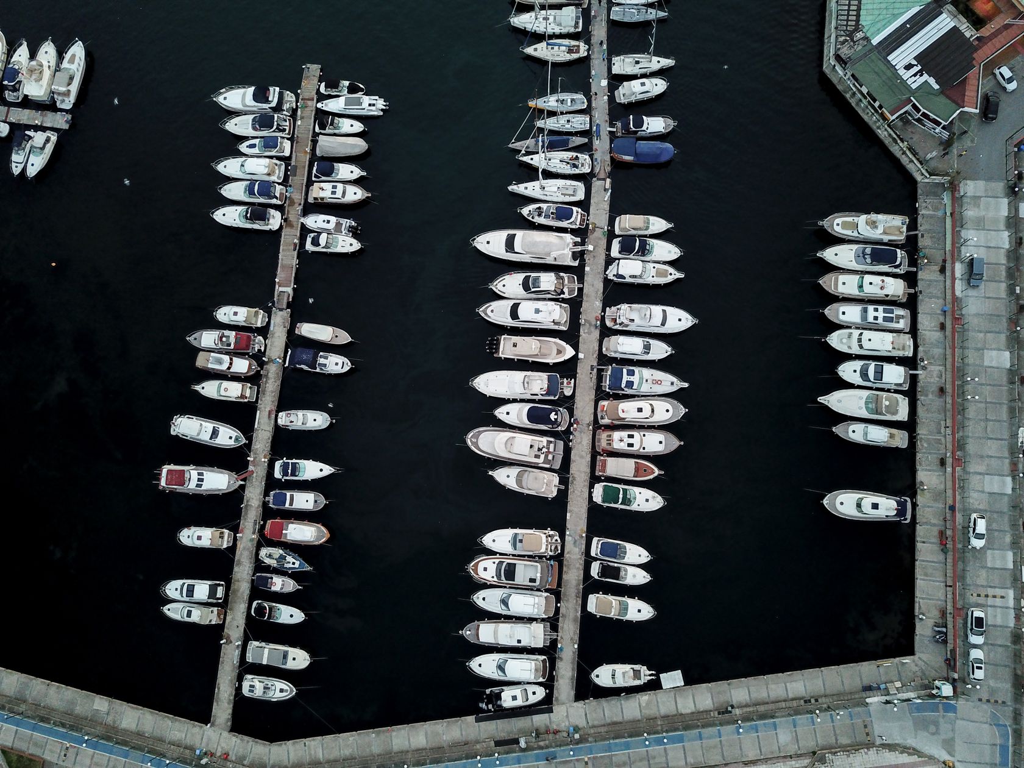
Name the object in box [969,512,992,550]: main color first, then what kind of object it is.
white car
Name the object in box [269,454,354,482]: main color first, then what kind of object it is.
white boat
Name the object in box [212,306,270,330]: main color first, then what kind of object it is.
white boat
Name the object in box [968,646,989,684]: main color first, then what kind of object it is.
white car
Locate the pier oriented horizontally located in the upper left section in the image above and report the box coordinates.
[0,107,72,131]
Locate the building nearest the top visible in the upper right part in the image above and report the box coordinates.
[843,0,1024,129]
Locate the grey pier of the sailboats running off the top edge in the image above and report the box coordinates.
[590,0,612,179]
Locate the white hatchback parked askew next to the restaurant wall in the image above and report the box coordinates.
[993,61,1020,91]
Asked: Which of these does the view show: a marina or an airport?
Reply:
marina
